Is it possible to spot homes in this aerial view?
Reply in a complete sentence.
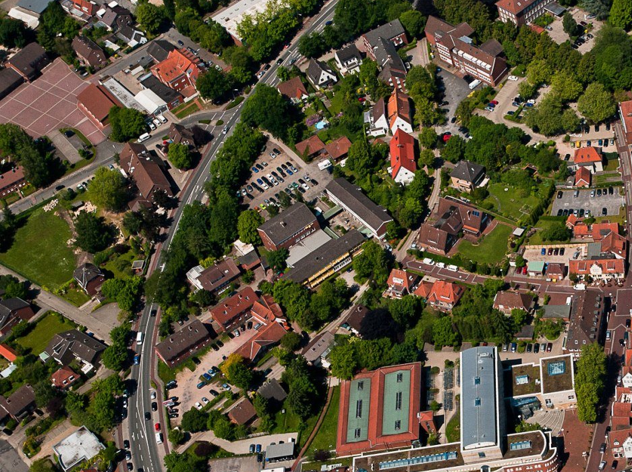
Yes, looking at the shot, I can spot a home.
